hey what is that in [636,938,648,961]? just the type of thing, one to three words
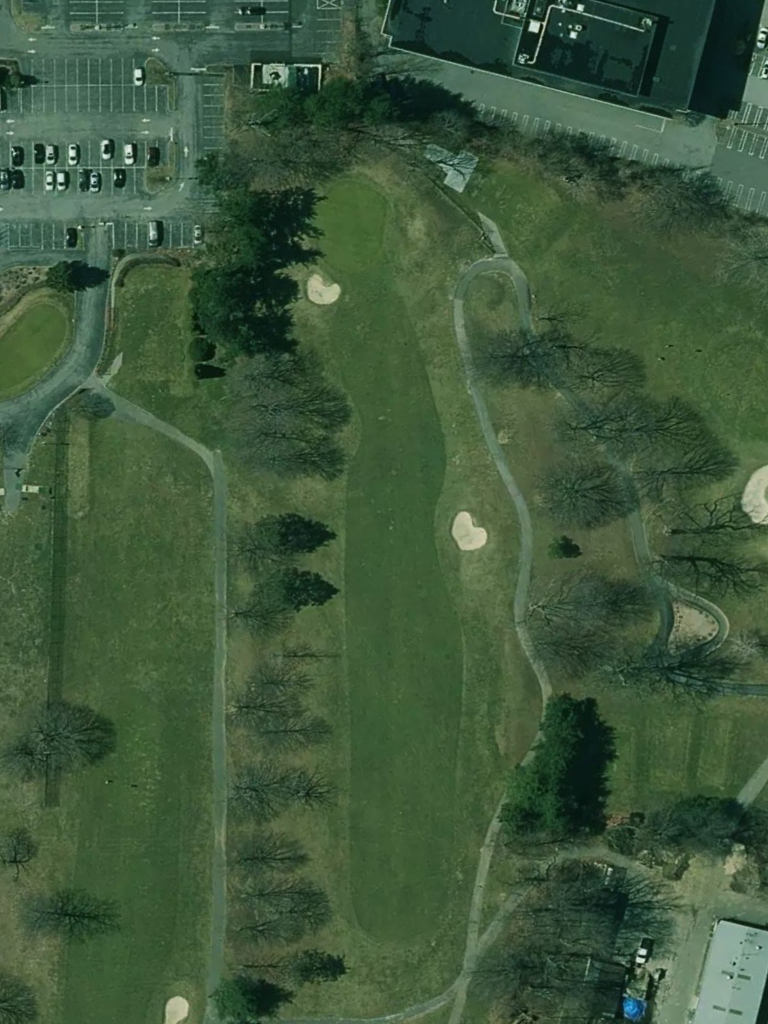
vehicle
